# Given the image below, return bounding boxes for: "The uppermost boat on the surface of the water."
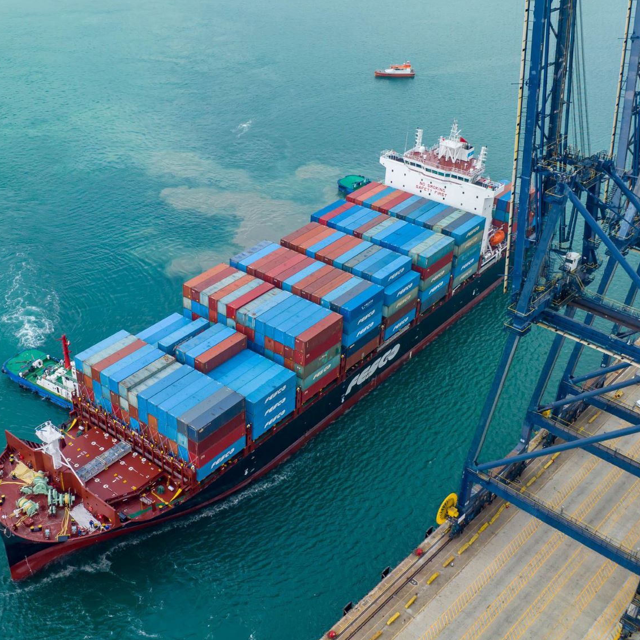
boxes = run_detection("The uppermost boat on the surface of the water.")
[375,61,413,79]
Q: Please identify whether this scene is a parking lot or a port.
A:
port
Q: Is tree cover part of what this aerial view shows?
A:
No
